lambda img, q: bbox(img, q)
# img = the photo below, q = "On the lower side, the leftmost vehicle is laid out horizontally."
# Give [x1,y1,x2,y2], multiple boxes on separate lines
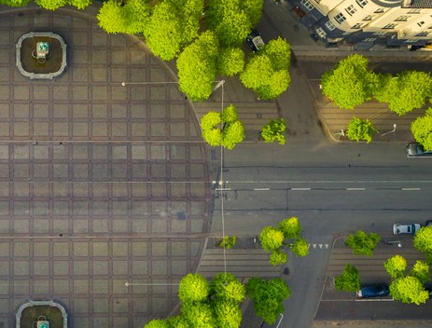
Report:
[355,282,390,299]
